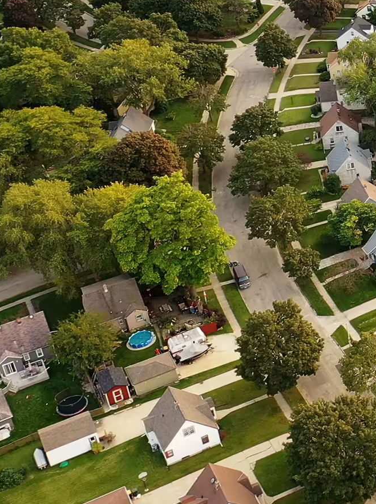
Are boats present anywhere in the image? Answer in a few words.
Yes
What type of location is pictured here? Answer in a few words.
residential area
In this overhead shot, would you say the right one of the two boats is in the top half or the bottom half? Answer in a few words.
bottom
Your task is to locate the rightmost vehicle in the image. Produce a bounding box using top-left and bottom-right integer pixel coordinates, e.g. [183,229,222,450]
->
[233,263,251,287]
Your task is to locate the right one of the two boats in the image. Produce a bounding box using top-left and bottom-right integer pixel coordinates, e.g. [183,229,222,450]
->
[175,341,216,361]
